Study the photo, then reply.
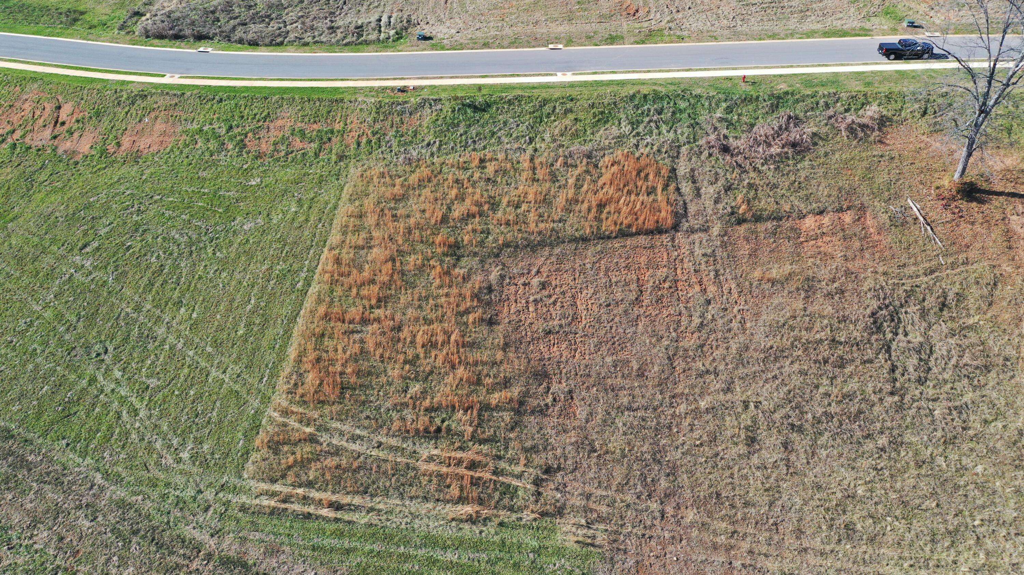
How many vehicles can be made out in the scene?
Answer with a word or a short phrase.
one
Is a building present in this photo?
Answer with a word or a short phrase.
No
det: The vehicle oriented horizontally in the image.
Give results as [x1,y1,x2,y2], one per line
[874,35,934,59]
